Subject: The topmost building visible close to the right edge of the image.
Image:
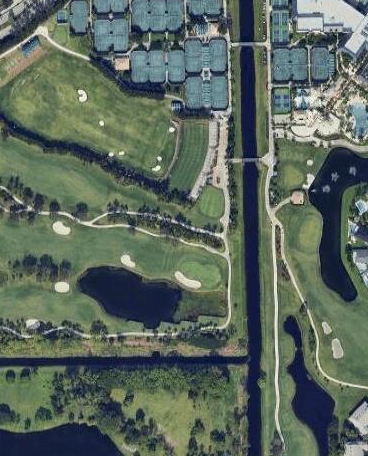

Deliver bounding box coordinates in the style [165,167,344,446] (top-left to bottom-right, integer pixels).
[297,0,366,32]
